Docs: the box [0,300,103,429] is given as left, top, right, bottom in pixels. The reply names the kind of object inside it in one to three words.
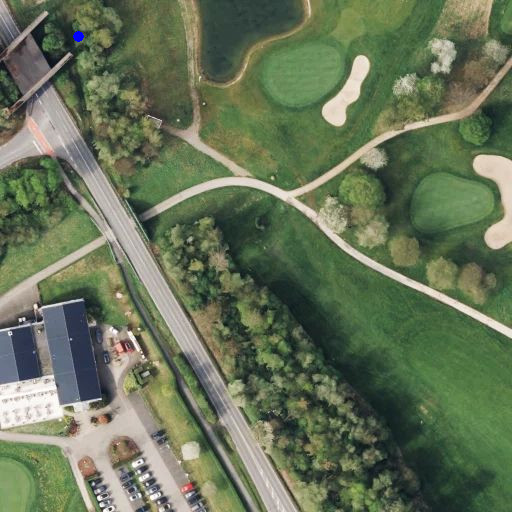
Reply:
building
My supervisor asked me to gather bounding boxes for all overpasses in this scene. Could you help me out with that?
[0,12,73,116]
